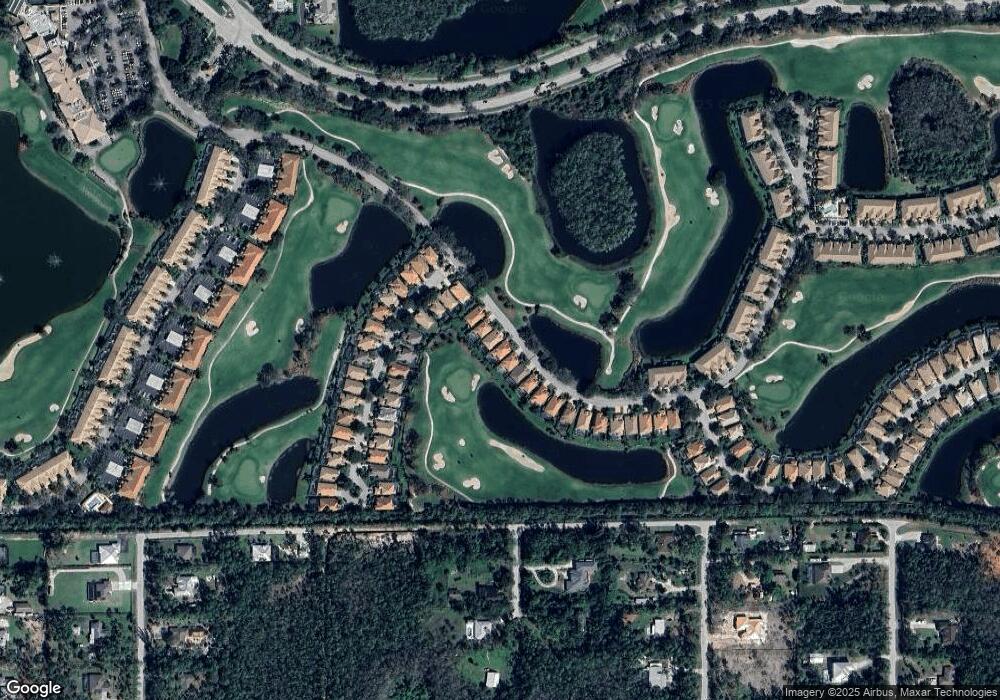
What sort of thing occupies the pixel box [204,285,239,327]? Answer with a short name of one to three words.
building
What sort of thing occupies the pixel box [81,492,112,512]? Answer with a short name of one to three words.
swimming pool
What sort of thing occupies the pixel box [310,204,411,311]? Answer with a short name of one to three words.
pond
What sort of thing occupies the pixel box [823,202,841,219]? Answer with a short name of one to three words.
swimming pool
